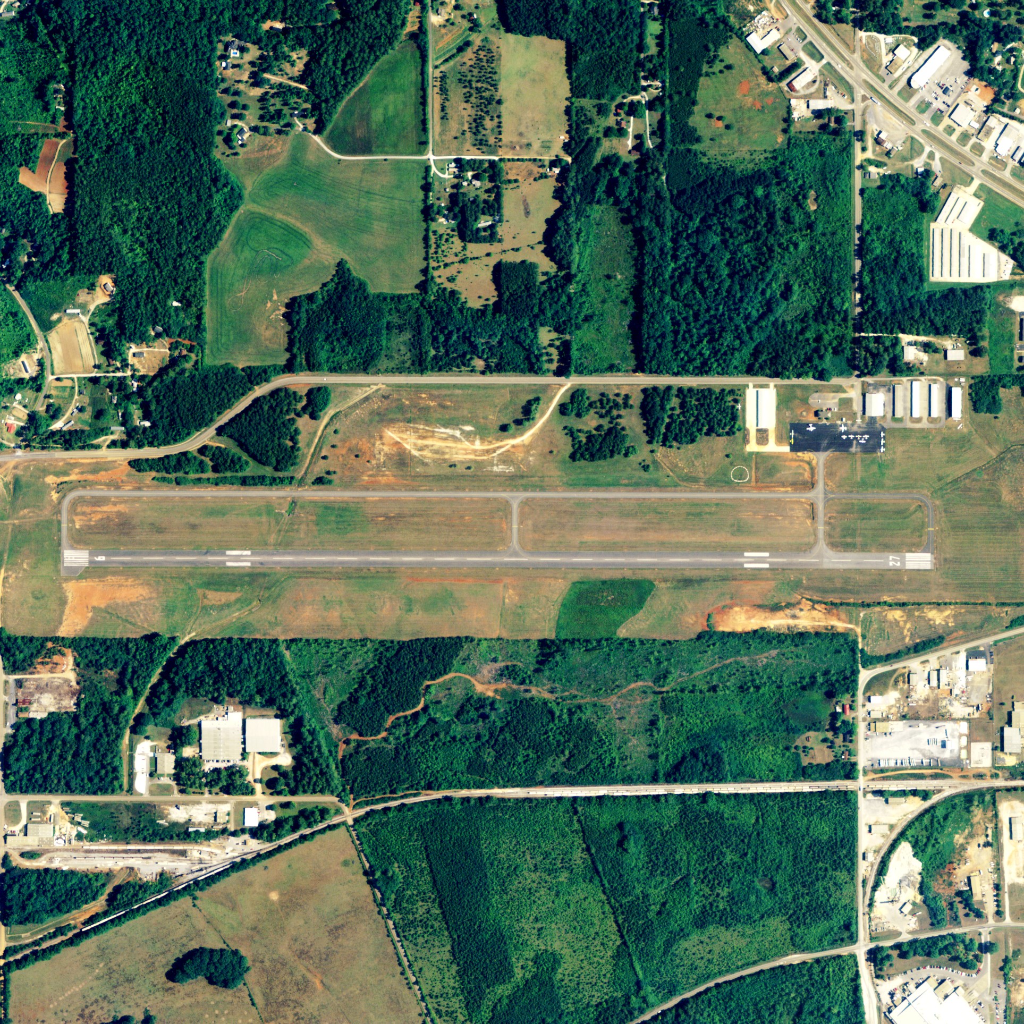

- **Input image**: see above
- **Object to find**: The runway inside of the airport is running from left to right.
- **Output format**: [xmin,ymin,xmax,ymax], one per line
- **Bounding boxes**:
[61,550,934,576]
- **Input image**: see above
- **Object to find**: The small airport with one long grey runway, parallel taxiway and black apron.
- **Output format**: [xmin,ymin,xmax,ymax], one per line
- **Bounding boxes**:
[61,416,934,576]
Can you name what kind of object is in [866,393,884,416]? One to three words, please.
hangar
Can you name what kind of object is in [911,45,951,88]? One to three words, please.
building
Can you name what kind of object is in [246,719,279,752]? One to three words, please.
building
